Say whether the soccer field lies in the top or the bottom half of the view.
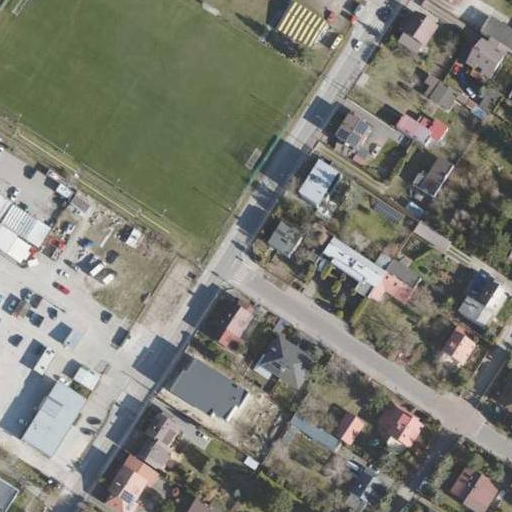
top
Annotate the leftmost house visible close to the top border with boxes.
[398,13,437,58]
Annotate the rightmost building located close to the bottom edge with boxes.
[450,468,498,512]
